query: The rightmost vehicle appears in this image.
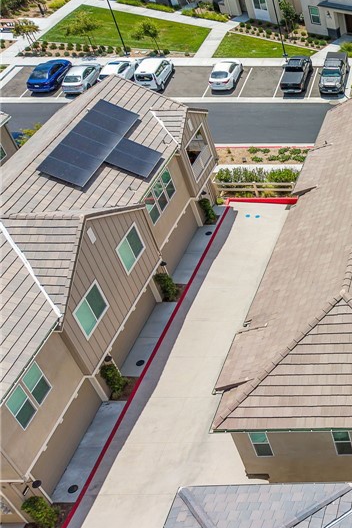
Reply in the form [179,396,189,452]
[316,51,349,91]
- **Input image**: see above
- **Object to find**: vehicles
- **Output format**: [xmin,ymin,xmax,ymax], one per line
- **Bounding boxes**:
[209,58,245,89]
[94,59,139,84]
[59,60,104,92]
[316,51,349,91]
[134,54,175,86]
[277,53,312,91]
[26,59,70,91]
